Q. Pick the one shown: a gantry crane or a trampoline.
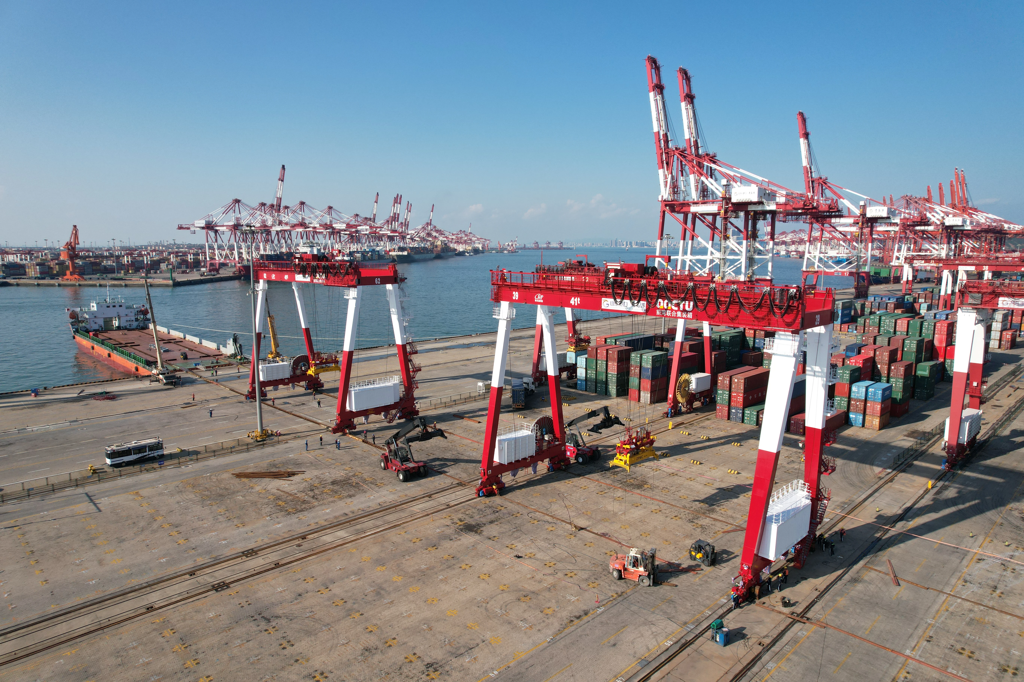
gantry crane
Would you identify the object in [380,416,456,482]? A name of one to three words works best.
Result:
work vehicle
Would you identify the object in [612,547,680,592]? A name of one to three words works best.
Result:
work vehicle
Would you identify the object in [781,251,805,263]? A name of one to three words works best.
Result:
ship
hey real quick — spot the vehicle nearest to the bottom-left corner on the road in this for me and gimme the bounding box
[103,434,168,465]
